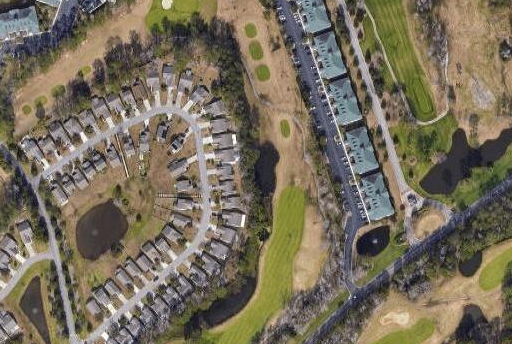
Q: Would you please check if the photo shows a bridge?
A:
No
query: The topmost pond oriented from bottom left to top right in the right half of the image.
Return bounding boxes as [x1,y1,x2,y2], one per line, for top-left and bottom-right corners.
[420,128,512,196]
